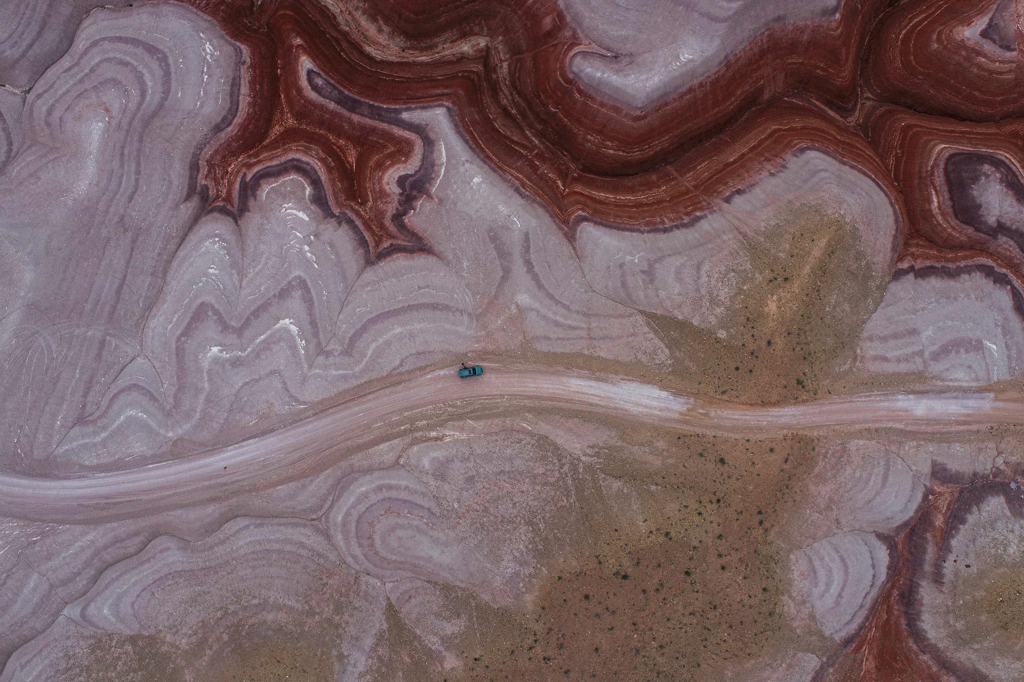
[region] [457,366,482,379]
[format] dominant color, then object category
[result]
blue vehicle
